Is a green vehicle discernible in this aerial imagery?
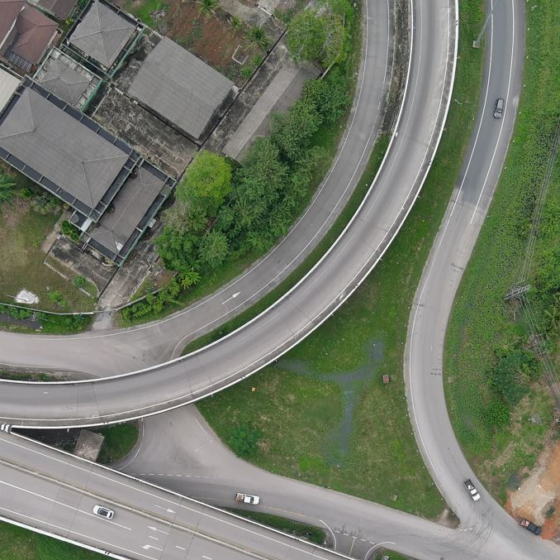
No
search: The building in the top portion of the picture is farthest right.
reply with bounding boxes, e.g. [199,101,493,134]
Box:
[128,38,236,139]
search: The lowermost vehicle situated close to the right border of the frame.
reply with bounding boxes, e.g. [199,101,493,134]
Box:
[515,517,543,536]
